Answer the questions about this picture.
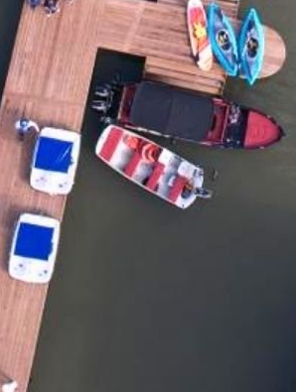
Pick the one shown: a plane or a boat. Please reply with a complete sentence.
It is a boat that can be seen here.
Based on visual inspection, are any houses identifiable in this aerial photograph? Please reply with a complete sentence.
No, there's no house here.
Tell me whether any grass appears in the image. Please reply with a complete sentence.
No, there is no grass in the image.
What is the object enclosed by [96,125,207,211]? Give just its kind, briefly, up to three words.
boat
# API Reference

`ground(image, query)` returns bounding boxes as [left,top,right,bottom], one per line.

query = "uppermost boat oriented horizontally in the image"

[103,82,287,153]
